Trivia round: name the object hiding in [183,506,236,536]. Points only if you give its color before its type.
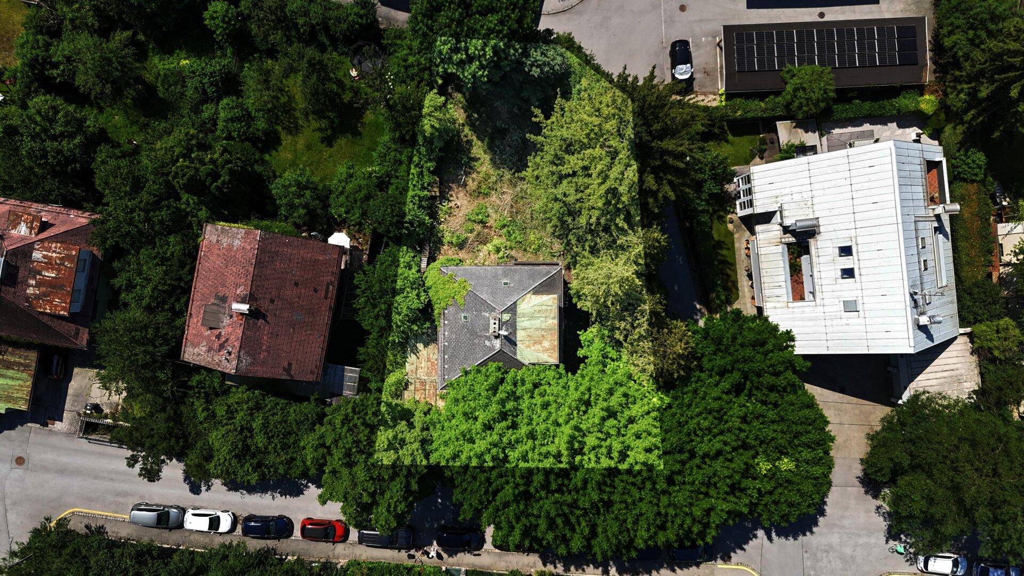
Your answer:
white car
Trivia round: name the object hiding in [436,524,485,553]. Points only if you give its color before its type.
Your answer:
black car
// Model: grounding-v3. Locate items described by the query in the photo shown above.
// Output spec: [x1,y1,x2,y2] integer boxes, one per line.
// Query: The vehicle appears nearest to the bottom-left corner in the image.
[129,501,187,532]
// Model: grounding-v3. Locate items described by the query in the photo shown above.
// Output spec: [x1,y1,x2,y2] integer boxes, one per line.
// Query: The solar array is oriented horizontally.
[735,25,918,71]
